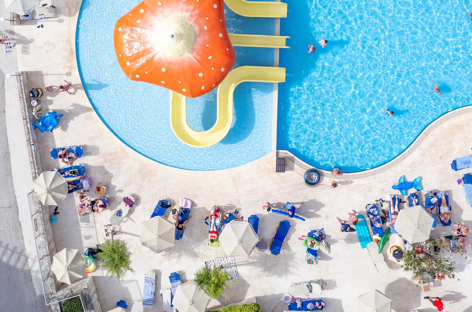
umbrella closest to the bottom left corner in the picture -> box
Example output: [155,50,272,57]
[52,247,88,283]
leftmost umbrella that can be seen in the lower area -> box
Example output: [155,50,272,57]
[31,169,69,207]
